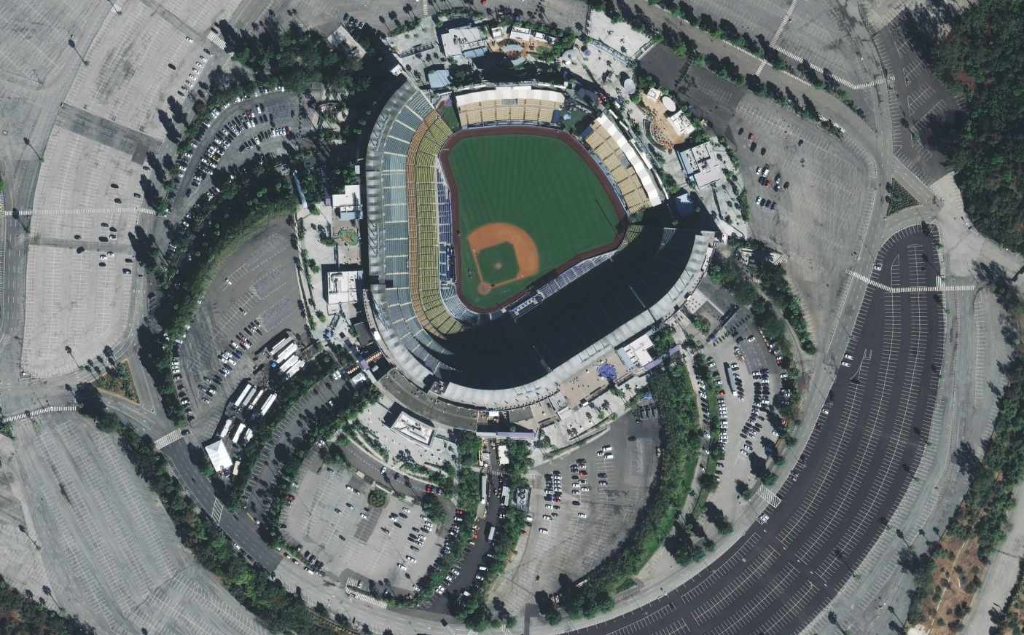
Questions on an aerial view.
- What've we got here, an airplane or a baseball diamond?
baseball diamond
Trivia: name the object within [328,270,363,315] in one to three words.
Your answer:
building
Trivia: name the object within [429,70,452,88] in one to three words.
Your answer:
building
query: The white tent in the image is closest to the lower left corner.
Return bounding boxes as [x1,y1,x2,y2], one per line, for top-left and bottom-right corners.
[205,439,232,472]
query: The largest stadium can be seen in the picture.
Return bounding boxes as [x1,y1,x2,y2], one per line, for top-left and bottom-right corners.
[364,64,729,410]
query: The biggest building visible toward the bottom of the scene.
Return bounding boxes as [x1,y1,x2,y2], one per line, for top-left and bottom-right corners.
[379,370,477,429]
